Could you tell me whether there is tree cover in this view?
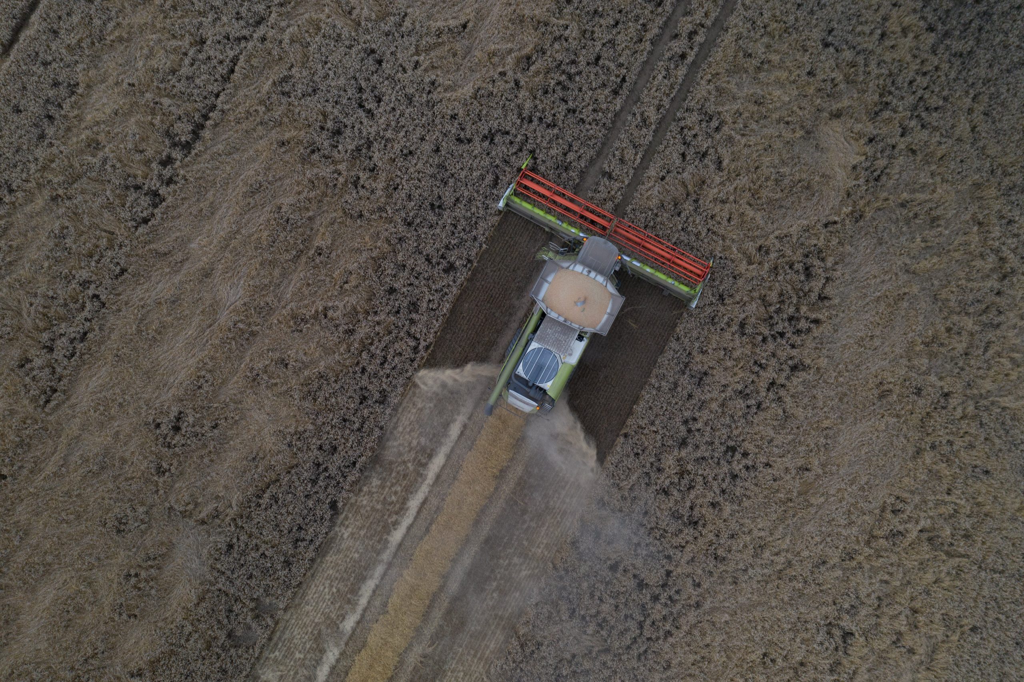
No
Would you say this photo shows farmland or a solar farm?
farmland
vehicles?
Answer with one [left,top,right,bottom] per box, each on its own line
[485,155,714,421]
